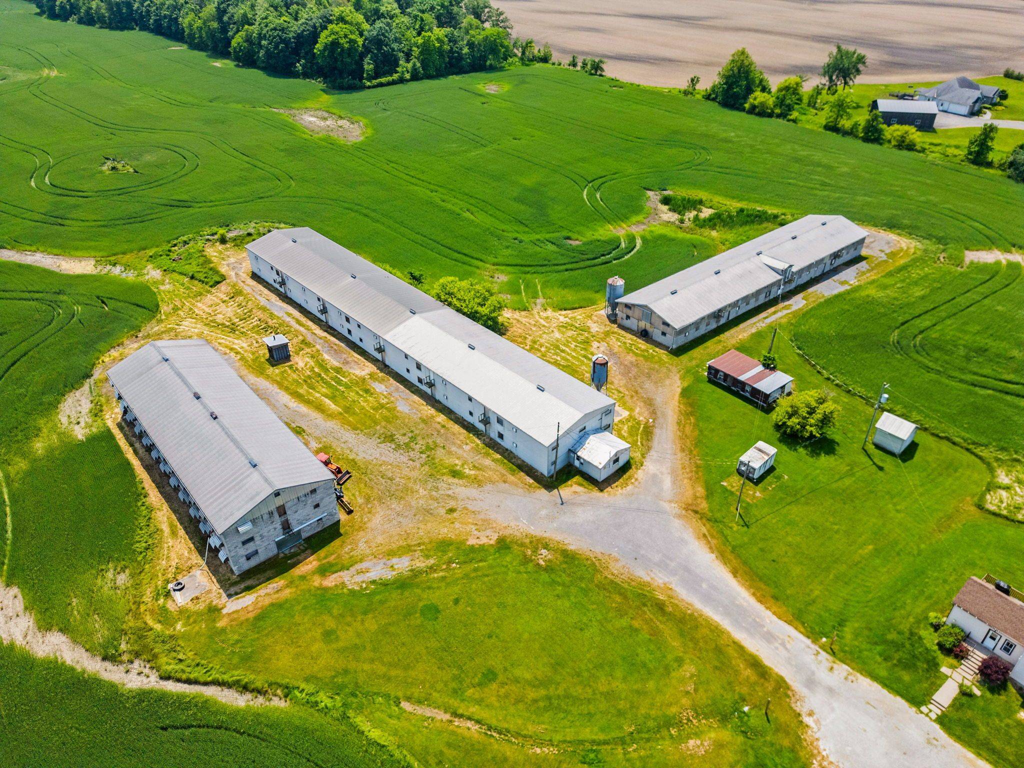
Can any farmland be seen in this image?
Yes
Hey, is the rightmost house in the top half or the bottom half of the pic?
bottom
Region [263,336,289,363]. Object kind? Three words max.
shed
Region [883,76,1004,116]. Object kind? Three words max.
house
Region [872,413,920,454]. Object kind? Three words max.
shed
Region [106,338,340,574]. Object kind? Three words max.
barn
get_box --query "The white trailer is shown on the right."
[736,441,778,481]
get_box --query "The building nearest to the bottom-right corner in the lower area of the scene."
[949,572,1024,705]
